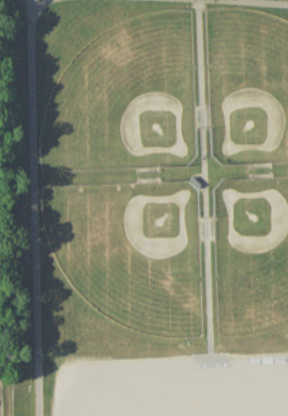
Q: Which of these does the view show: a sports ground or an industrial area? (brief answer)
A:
sports ground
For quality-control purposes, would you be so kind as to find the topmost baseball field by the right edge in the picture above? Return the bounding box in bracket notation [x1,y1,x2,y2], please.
[206,6,288,164]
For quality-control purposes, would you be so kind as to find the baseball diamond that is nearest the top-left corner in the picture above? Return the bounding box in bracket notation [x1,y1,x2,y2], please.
[40,8,196,171]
